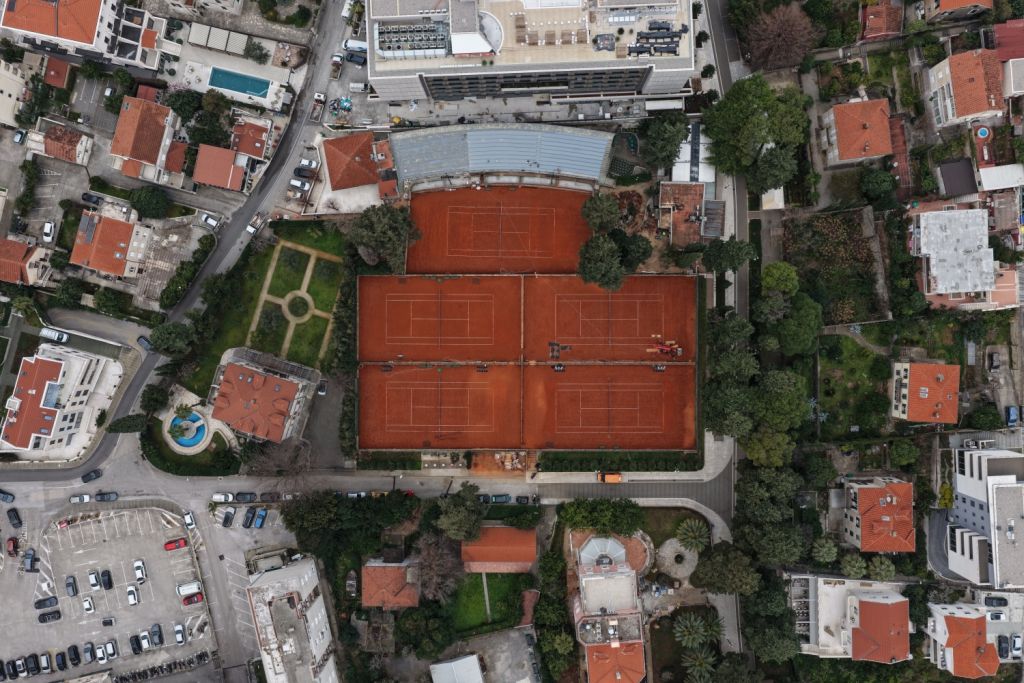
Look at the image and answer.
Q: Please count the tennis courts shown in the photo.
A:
5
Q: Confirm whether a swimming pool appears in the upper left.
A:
Yes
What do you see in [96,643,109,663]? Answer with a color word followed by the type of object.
white vehicle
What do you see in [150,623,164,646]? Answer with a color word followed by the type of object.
gray car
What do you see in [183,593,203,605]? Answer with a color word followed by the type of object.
red vehicle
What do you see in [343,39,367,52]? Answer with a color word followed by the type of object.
white vehicle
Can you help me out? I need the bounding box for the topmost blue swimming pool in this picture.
[207,65,272,100]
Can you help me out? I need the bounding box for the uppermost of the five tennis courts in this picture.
[406,186,593,272]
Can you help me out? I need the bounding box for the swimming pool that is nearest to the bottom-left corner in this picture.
[167,410,208,451]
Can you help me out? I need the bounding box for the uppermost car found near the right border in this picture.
[988,352,1000,371]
